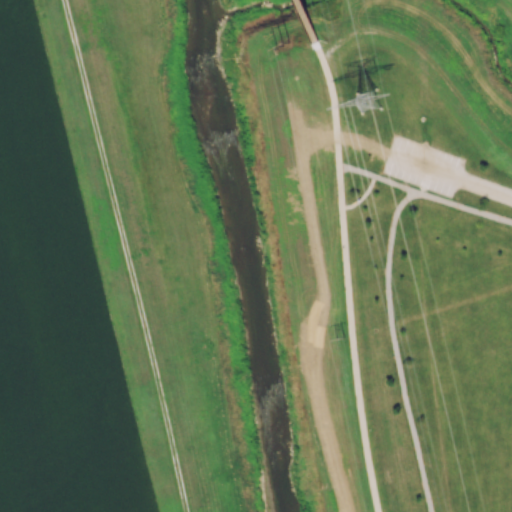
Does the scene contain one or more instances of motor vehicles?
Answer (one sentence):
No, no motor vehicle is visible in the view.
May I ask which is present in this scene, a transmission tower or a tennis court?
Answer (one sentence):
This aerial view contains a transmission tower.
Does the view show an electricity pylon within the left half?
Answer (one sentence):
No, looking within the left half, there is no electricity pylon.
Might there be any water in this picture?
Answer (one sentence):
Yes, there's water in this view.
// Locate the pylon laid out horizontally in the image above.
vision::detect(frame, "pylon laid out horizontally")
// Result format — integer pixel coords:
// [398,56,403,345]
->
[325,88,390,114]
